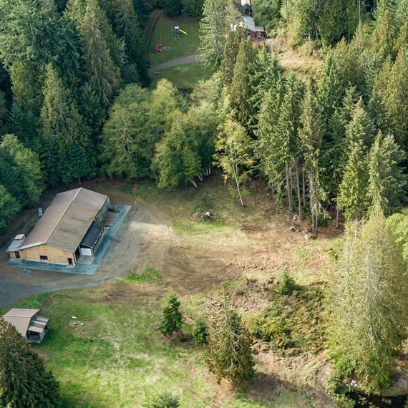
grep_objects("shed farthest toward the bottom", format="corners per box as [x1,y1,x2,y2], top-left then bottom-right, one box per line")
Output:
[2,308,51,342]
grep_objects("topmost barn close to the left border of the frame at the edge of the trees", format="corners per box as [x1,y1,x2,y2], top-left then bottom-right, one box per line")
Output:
[5,186,110,273]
